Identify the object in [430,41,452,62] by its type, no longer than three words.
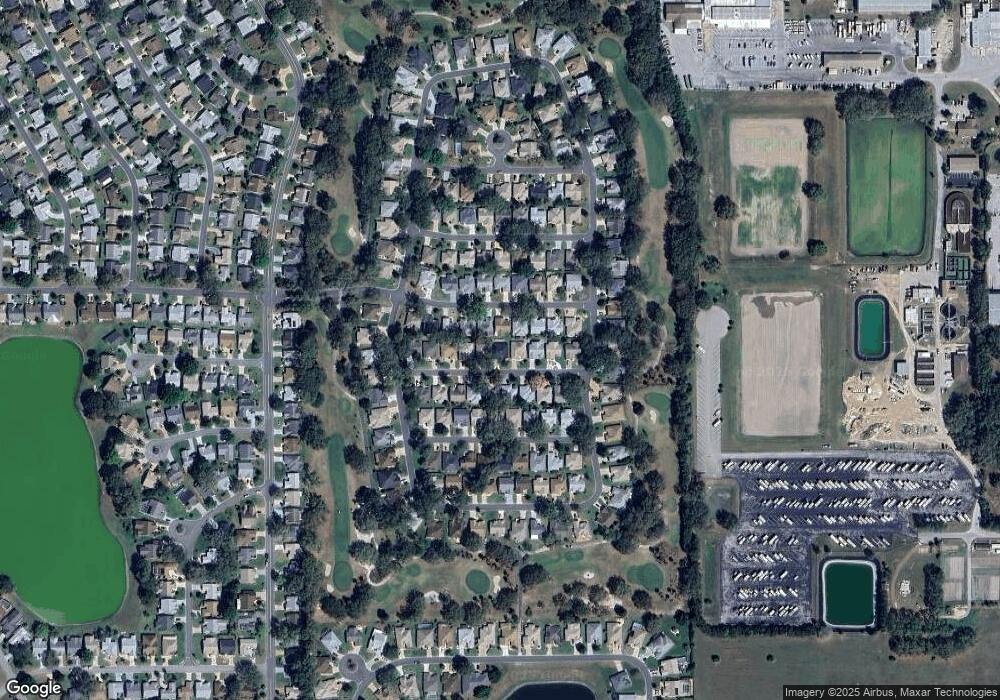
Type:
house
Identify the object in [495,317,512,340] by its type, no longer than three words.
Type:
house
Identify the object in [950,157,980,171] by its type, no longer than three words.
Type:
building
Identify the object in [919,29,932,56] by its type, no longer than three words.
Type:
shed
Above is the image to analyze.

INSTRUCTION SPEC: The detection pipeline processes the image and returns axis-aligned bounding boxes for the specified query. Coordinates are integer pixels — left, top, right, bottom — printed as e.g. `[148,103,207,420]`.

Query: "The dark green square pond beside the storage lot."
[825,562,873,625]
